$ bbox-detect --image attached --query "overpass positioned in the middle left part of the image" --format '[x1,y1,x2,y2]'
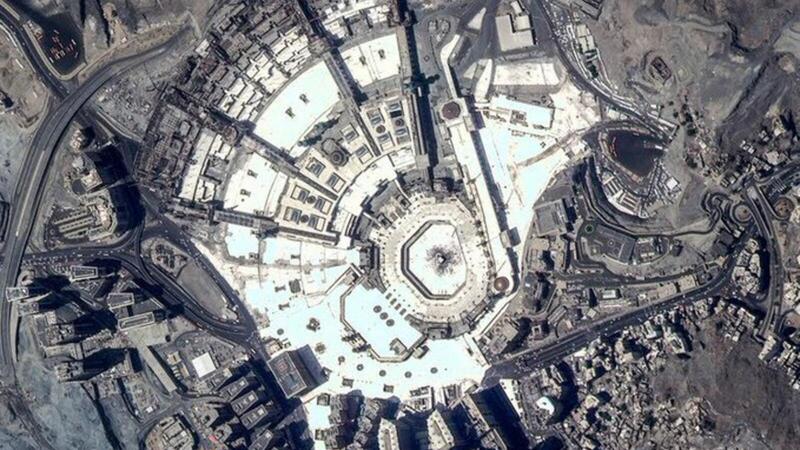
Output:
[1,55,134,393]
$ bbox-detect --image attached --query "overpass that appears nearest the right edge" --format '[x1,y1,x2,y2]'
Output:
[734,173,783,346]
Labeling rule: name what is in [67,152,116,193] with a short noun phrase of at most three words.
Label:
building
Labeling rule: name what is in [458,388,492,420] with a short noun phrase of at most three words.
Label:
building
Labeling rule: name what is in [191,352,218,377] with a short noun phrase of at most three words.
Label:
shed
